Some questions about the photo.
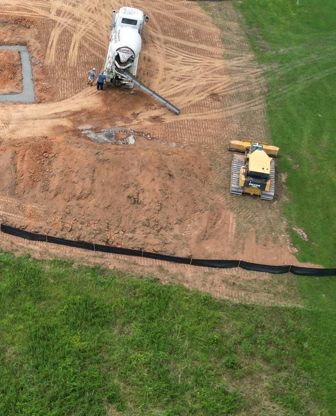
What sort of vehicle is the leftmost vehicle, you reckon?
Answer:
truck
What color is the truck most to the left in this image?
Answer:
white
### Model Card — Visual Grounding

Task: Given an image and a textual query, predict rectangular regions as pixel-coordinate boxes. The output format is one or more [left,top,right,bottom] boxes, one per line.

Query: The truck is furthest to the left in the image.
[107,3,181,116]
